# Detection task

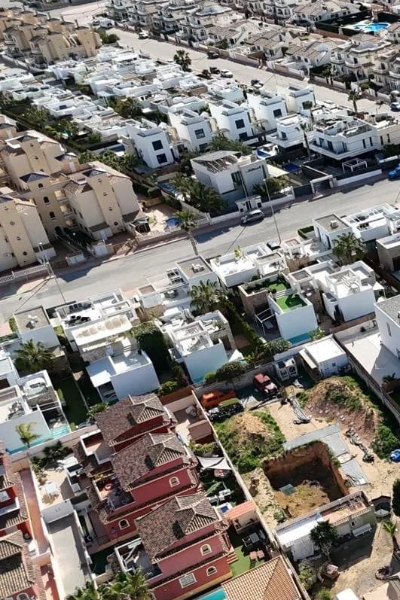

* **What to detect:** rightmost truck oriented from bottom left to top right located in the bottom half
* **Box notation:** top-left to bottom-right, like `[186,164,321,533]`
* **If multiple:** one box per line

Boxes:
[273,358,302,380]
